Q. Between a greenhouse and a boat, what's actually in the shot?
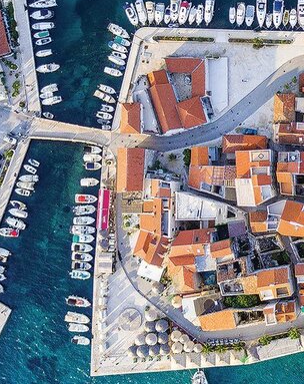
boat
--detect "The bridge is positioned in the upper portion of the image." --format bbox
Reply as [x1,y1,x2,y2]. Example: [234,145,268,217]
[27,118,114,147]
